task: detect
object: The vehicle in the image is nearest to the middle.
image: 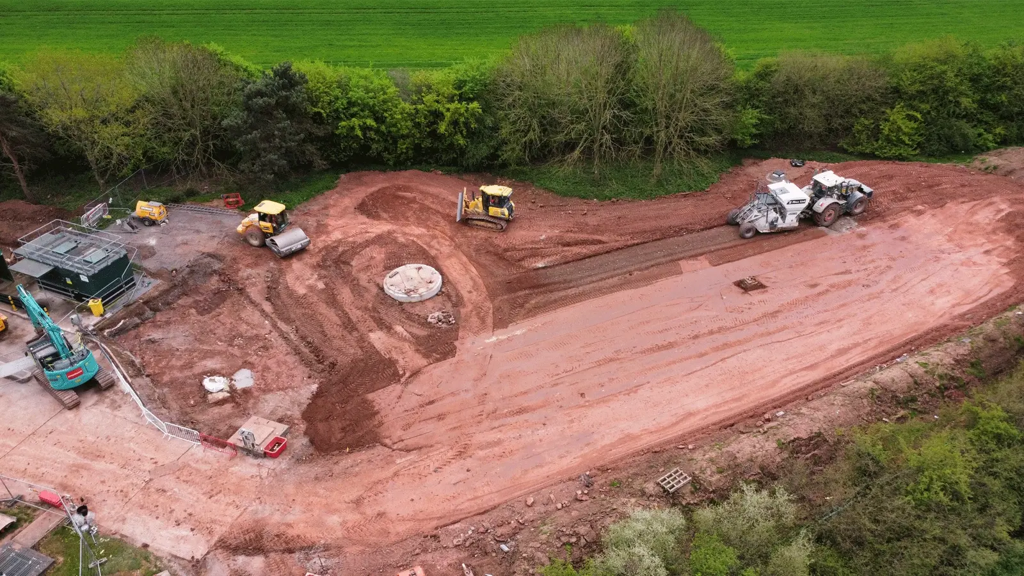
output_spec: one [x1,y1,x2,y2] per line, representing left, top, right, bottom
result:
[462,183,516,231]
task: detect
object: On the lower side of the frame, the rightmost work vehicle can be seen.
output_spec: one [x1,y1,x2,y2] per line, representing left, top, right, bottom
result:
[23,281,118,413]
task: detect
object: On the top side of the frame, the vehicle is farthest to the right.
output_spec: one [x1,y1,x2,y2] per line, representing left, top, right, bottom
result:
[799,177,874,230]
